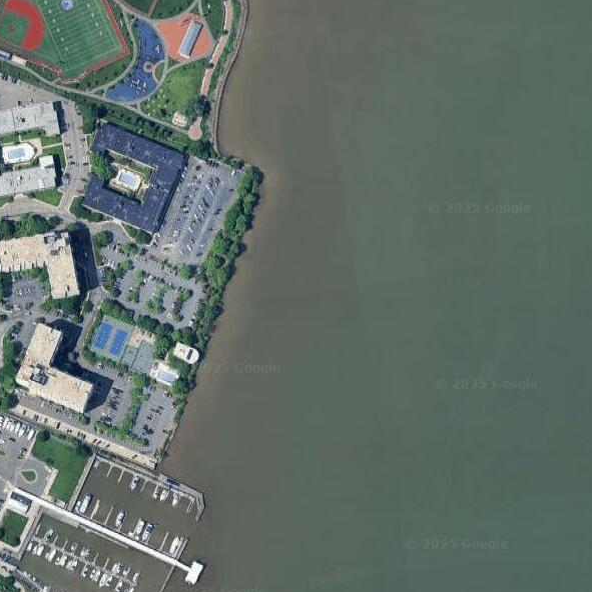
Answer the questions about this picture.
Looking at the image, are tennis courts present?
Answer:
Yes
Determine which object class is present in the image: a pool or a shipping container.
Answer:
pool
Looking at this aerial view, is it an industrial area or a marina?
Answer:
marina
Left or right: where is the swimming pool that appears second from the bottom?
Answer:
left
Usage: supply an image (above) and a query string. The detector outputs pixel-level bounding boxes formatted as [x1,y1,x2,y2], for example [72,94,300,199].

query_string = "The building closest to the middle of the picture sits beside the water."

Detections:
[174,343,199,364]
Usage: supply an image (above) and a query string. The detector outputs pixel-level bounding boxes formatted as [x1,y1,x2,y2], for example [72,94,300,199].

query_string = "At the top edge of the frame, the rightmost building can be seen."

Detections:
[180,21,203,57]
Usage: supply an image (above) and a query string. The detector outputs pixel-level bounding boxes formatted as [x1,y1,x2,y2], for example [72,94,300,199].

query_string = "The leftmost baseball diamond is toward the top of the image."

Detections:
[0,0,45,53]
